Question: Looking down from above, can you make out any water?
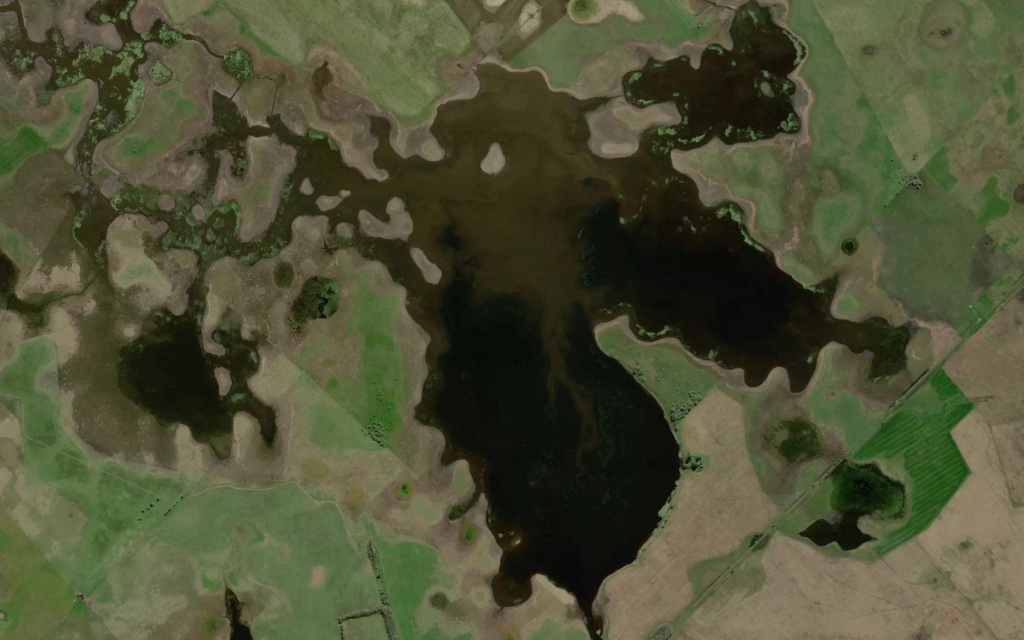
Yes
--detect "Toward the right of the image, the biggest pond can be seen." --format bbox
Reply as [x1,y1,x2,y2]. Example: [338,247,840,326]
[800,507,876,550]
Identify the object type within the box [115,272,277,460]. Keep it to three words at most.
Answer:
pond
